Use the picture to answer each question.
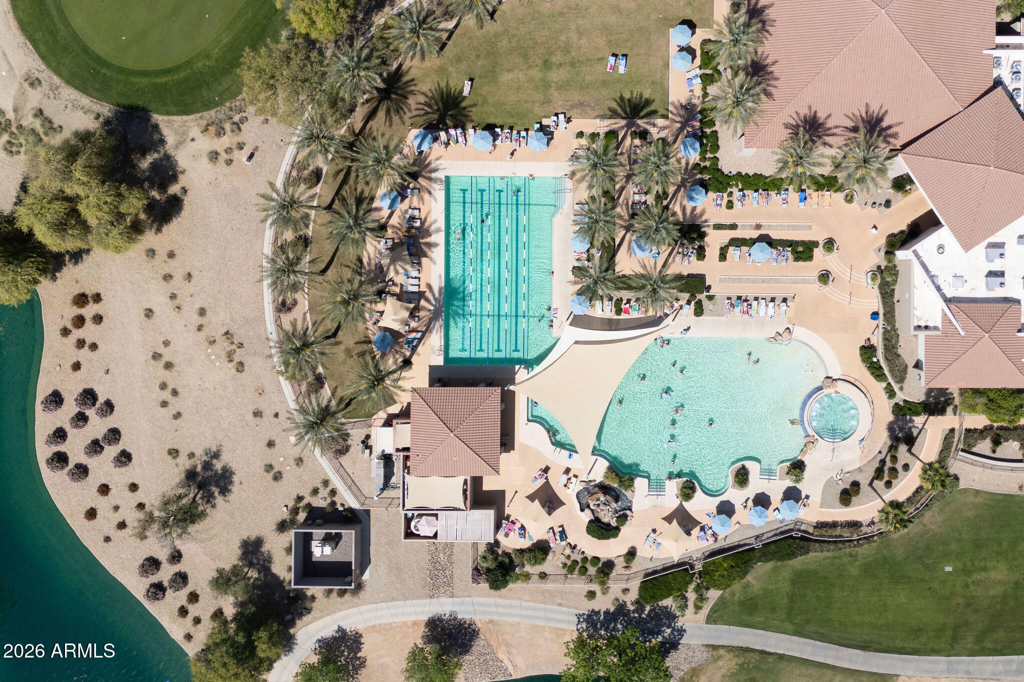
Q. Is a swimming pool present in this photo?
Yes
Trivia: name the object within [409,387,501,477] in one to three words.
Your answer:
building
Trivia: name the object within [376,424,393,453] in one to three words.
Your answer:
shed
